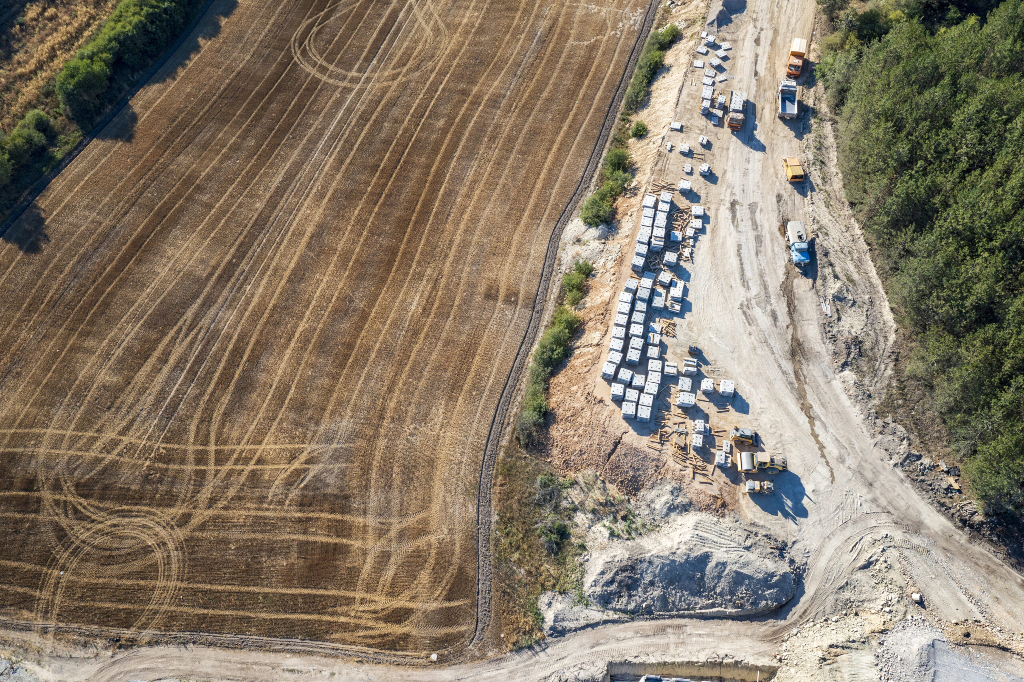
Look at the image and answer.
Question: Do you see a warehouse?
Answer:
No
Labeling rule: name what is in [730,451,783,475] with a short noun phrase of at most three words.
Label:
work vehicle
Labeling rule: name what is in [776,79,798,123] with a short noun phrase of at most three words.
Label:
truck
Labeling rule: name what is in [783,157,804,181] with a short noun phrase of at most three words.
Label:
truck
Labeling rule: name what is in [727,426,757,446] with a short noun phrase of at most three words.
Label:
work vehicle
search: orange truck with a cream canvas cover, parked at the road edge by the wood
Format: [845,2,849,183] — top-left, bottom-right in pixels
[785,38,806,77]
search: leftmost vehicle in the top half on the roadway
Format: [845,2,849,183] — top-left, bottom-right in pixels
[726,89,751,131]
